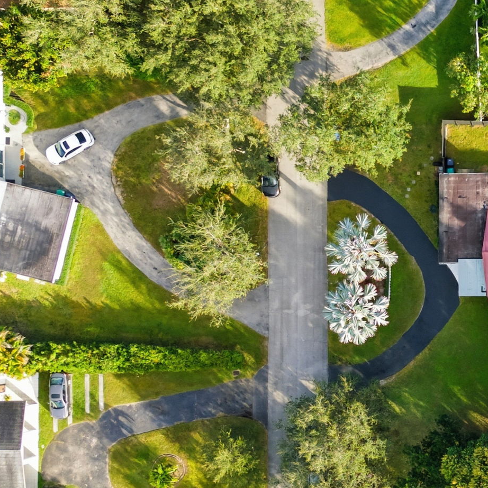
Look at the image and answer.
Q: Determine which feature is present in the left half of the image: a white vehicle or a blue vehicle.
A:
white vehicle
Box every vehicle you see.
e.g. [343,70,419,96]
[259,150,282,199]
[46,128,96,165]
[47,373,72,419]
